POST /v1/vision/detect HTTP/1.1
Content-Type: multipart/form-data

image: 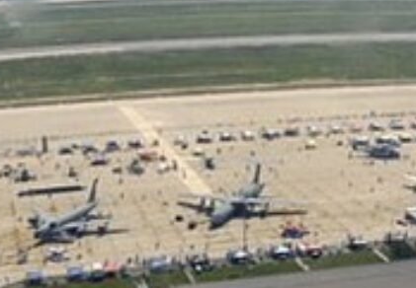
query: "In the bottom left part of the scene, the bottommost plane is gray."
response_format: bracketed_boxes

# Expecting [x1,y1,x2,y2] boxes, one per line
[23,187,123,246]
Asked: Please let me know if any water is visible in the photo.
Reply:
No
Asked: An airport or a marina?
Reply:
airport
